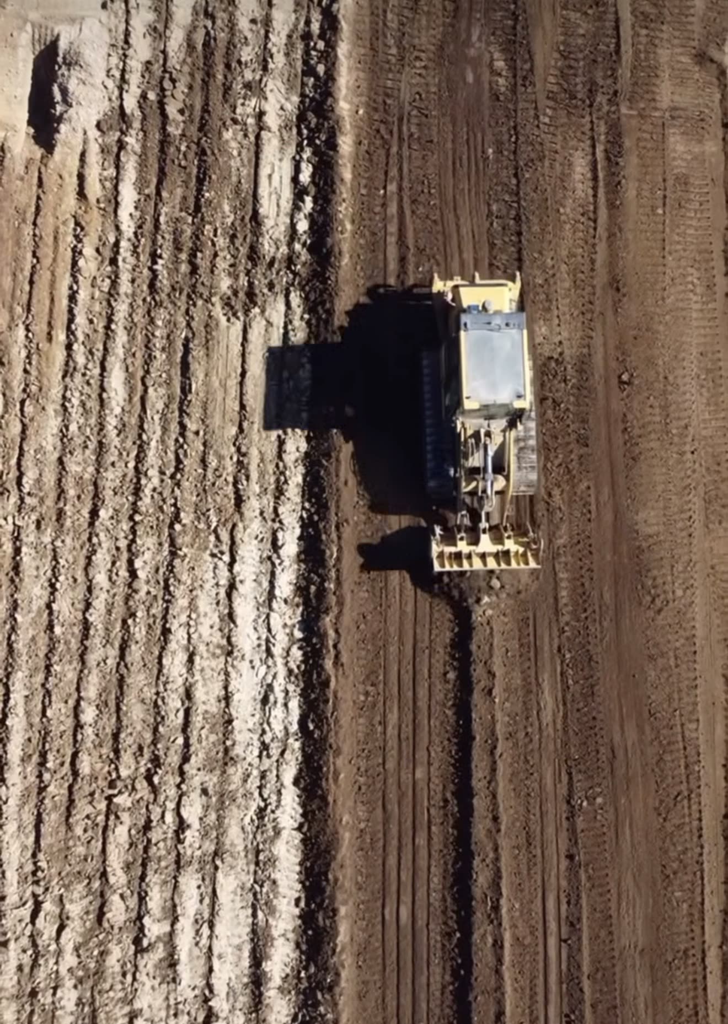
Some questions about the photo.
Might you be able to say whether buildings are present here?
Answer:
No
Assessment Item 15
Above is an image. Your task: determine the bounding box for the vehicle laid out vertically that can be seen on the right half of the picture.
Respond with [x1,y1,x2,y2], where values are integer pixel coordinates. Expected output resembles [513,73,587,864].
[419,272,542,573]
